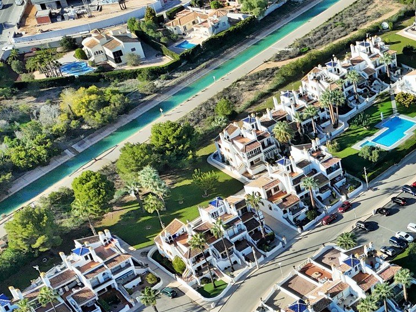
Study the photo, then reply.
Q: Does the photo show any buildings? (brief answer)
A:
Yes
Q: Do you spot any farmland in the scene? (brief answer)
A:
No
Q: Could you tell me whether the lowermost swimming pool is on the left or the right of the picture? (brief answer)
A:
right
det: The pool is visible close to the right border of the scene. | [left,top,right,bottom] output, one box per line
[354,114,416,150]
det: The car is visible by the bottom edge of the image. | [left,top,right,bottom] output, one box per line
[158,283,177,297]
